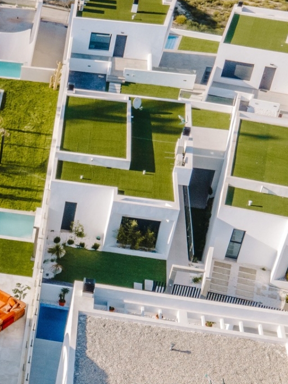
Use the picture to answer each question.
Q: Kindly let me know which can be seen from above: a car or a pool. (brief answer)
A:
pool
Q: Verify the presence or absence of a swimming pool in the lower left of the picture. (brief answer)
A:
Yes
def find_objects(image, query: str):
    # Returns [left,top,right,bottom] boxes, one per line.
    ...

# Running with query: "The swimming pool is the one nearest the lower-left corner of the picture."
[32,304,66,342]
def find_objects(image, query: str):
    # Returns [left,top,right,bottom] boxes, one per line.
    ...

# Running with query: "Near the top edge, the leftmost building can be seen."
[69,0,166,58]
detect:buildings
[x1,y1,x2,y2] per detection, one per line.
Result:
[205,1,288,93]
[46,87,199,260]
[201,100,288,267]
[69,0,166,58]
[54,275,288,384]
